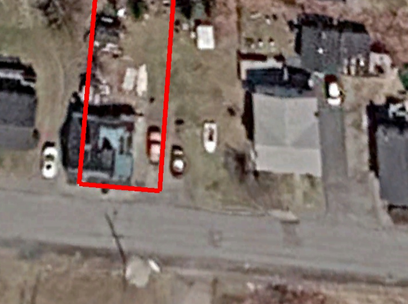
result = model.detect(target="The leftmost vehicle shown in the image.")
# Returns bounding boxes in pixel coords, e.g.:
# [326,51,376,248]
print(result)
[41,143,59,178]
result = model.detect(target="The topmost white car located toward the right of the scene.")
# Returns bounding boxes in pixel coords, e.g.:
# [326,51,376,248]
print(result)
[326,80,343,108]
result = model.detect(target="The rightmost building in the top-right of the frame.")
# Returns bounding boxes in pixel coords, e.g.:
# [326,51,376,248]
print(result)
[341,29,370,75]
